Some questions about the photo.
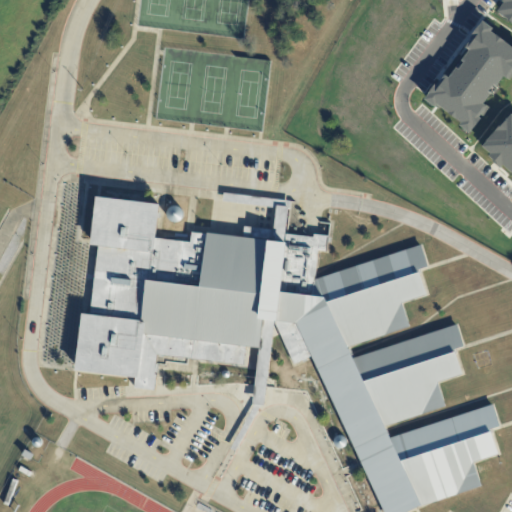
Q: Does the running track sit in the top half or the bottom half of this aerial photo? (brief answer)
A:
bottom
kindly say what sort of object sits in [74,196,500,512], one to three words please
building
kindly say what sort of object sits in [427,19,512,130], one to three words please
building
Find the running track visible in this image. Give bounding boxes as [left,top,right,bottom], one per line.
[26,456,174,512]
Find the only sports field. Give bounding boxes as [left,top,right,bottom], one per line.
[44,492,144,512]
